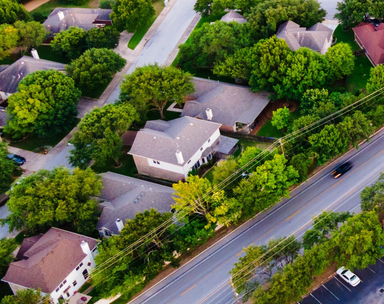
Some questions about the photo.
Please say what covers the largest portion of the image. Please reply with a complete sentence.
What you mostly see from above here is trees.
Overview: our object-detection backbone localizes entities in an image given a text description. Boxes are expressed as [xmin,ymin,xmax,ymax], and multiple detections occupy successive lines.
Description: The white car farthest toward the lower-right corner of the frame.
[337,268,360,286]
